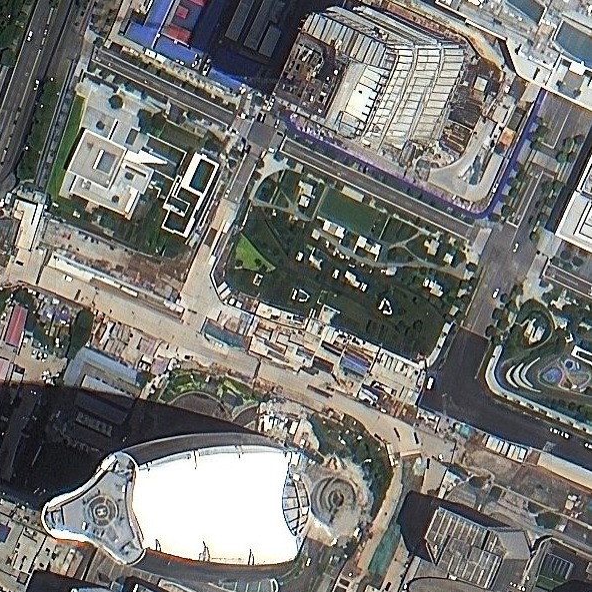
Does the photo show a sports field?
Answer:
Yes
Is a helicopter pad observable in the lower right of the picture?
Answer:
No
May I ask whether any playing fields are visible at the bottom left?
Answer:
No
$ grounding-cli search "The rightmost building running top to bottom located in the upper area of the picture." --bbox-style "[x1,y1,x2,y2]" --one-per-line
[555,159,592,251]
